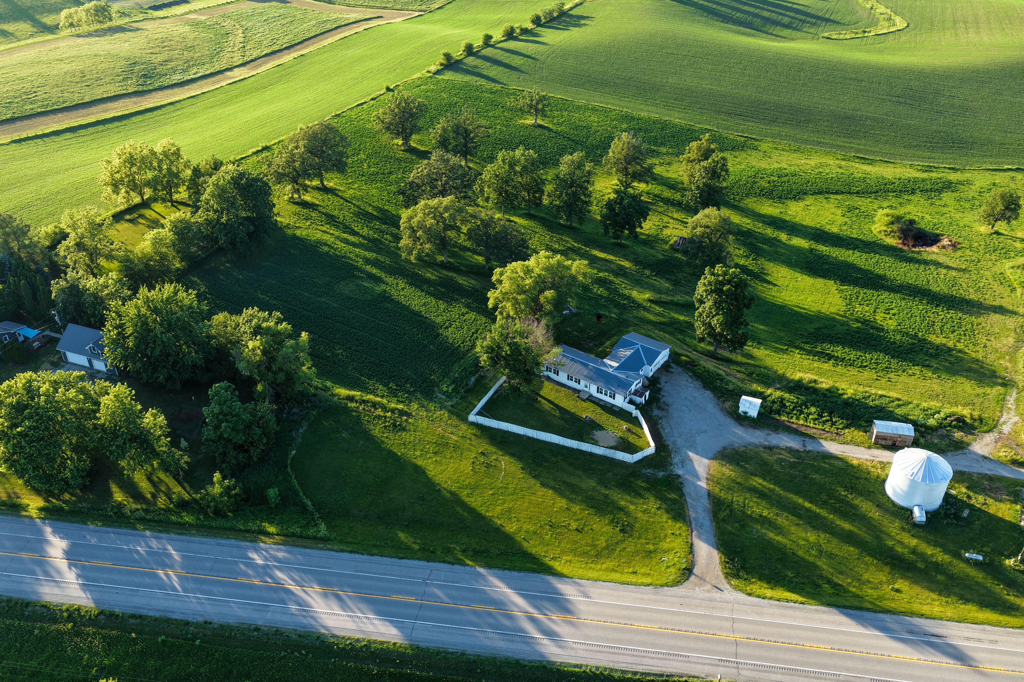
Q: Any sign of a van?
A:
No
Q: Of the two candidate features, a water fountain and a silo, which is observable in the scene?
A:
silo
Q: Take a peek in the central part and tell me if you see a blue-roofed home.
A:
Yes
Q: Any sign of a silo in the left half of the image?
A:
No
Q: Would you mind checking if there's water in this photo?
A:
No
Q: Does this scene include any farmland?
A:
Yes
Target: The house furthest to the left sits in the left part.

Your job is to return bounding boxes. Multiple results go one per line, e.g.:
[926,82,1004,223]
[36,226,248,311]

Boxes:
[0,309,44,342]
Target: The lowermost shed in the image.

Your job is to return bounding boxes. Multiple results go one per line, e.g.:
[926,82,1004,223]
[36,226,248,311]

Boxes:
[865,424,914,448]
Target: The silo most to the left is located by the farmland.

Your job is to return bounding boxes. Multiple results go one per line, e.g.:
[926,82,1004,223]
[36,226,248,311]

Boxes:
[884,448,954,527]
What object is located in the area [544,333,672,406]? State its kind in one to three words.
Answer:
house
